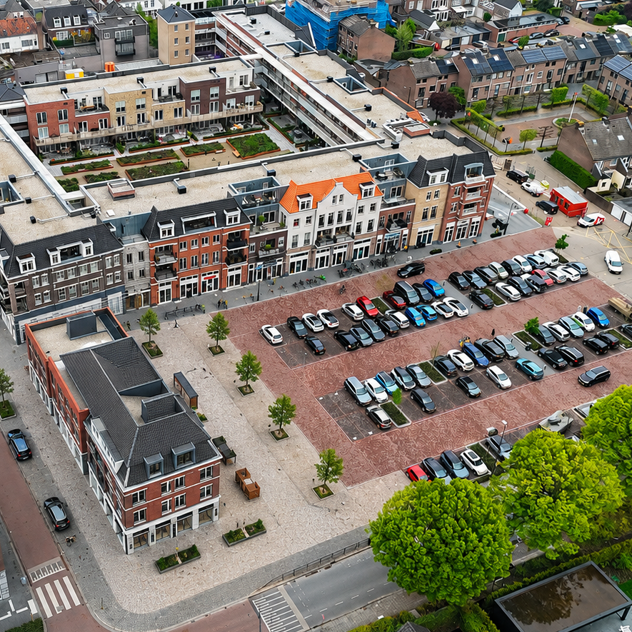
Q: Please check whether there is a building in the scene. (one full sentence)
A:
Yes, the image includes a building.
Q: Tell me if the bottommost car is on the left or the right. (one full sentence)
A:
It is on the left.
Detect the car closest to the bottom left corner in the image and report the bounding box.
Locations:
[43,498,73,534]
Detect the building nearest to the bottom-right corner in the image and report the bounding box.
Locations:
[497,561,632,632]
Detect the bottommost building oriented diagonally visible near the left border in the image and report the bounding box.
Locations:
[24,302,225,554]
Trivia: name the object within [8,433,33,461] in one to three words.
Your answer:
car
